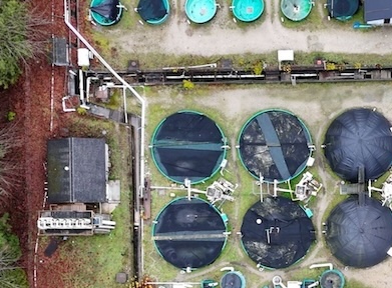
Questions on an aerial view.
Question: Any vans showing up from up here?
No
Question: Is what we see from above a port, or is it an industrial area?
industrial area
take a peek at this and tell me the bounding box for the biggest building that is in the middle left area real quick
[48,136,114,203]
